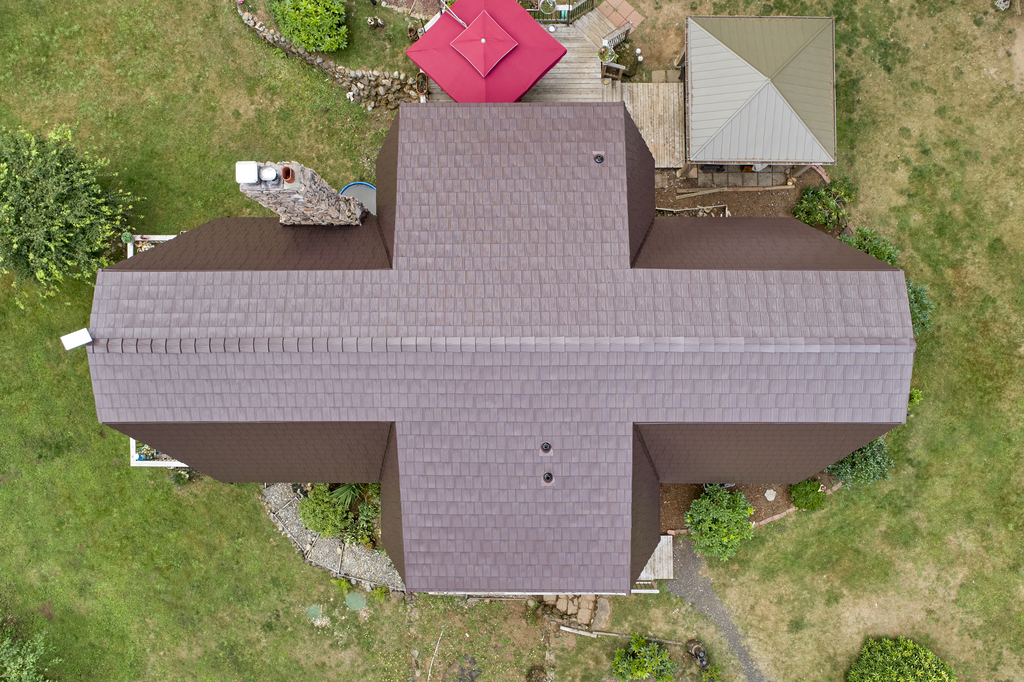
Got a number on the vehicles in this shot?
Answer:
0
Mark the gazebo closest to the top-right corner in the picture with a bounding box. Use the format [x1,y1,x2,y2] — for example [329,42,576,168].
[670,15,837,182]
